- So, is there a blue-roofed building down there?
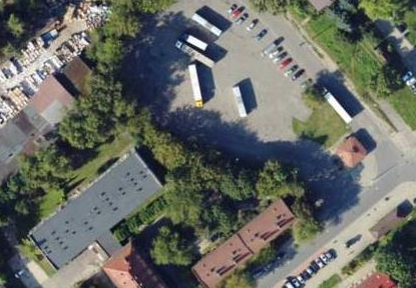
No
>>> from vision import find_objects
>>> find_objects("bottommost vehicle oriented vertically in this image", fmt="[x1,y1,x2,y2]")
[233,86,246,117]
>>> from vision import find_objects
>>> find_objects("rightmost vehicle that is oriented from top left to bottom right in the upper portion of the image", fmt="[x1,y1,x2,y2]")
[321,89,351,124]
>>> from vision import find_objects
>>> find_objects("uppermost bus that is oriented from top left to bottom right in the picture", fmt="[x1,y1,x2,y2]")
[192,13,222,36]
